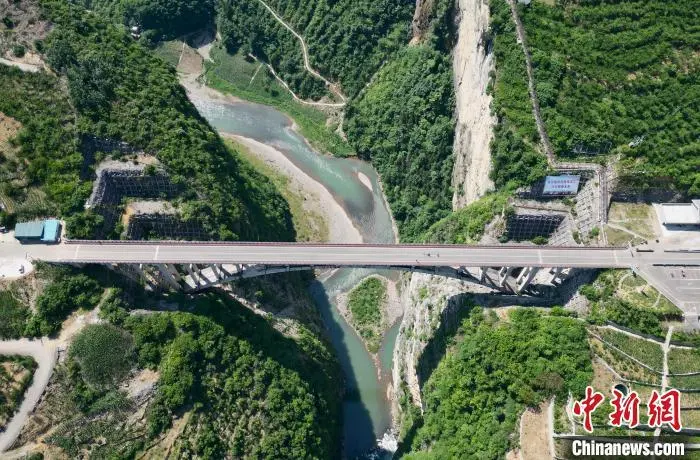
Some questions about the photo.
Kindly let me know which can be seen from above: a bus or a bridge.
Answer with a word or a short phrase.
bridge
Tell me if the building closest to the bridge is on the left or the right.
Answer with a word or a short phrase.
left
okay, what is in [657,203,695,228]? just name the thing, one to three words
building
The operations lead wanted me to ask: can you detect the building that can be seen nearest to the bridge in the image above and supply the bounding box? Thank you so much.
[42,219,64,244]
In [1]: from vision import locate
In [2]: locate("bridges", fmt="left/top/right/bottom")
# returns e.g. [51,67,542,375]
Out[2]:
[59,241,636,290]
